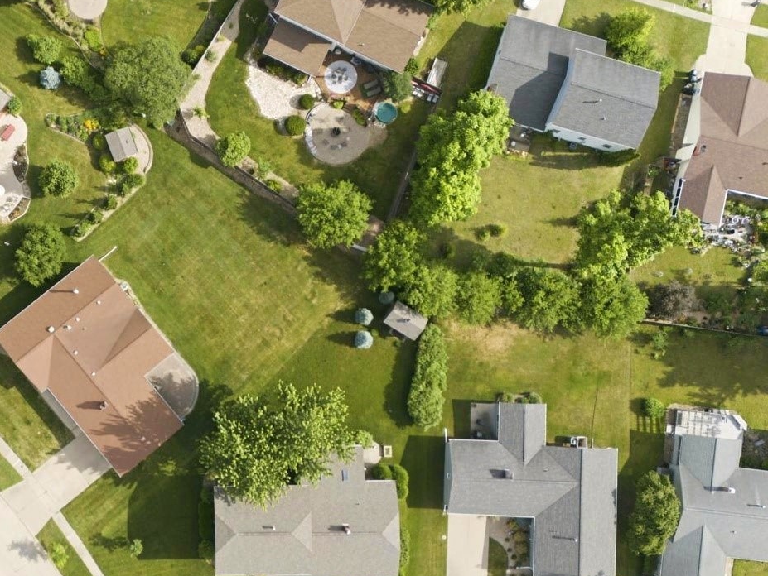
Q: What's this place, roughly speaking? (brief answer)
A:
residential area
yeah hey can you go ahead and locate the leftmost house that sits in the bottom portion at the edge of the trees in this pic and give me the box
[0,252,184,477]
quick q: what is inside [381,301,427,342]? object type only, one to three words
shed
